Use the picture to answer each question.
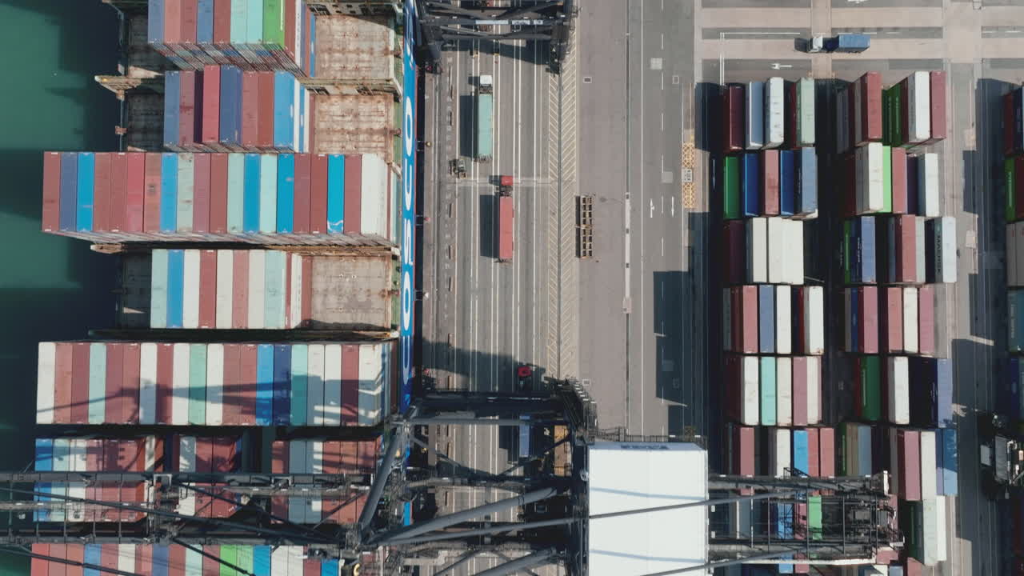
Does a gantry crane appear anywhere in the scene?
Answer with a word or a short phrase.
Yes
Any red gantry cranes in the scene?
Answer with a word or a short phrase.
No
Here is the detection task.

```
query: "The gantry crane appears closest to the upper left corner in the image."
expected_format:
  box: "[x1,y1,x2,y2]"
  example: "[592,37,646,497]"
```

[419,0,577,87]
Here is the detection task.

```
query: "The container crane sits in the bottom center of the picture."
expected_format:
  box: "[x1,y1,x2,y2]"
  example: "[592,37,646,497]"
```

[0,354,921,576]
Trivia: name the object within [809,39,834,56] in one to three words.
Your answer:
vehicle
